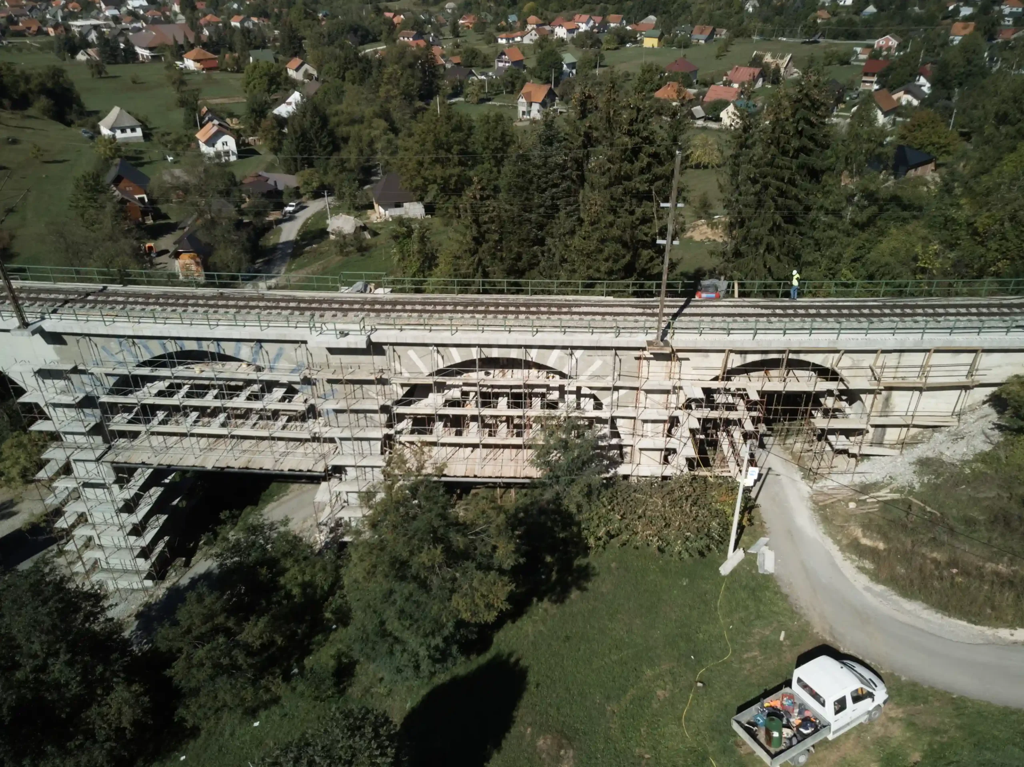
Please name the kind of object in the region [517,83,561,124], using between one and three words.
house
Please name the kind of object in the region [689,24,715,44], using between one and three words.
house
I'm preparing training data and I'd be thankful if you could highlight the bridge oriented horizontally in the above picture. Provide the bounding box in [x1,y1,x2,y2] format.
[0,276,1024,564]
